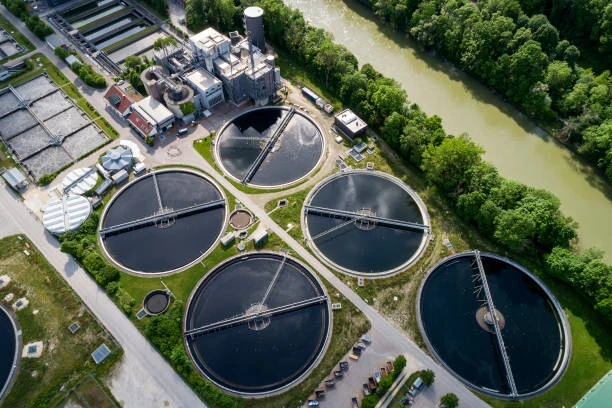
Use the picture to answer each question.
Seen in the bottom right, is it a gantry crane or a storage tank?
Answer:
storage tank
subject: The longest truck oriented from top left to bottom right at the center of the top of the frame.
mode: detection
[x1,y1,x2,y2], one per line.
[299,84,325,108]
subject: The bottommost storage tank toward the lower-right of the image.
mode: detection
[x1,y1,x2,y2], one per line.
[416,250,570,401]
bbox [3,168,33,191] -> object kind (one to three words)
shed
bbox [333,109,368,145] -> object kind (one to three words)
building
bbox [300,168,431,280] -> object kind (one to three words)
storage tank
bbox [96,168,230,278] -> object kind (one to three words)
storage tank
